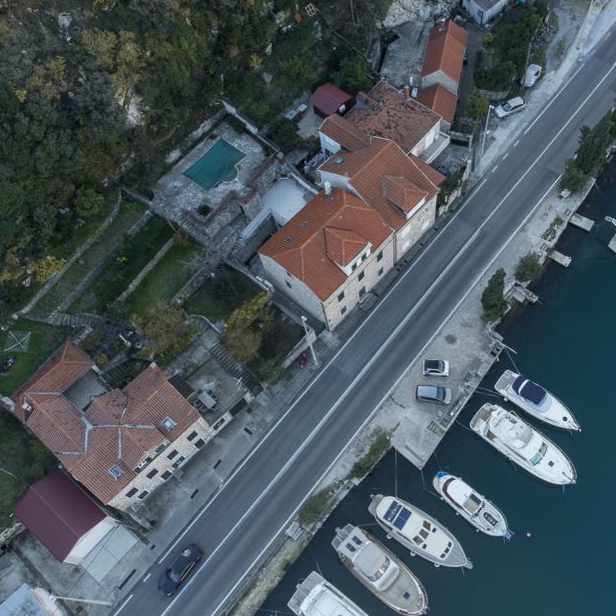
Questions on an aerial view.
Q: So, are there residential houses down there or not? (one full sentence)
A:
Yes, the image includes a residential house.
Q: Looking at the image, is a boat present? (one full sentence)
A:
Yes, looking at the shot, I can spot a boat.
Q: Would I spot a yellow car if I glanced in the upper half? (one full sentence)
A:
No, looking in the upper half, there is no yellow car.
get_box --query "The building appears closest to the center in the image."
[258,182,392,327]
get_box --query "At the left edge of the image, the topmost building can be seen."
[0,340,214,509]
